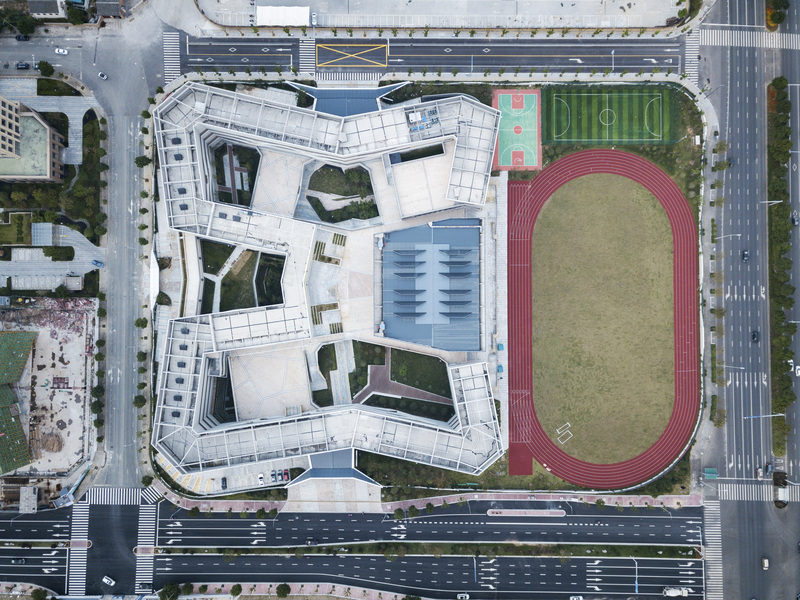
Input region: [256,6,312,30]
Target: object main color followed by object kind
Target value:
white tent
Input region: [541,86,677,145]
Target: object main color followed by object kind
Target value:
green soccer field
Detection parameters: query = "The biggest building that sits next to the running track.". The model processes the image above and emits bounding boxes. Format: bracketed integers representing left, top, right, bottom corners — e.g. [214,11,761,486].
[152,80,505,488]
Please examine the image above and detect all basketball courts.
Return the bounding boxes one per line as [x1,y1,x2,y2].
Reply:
[493,89,542,170]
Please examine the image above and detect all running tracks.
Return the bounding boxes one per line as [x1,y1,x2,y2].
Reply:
[507,149,699,490]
